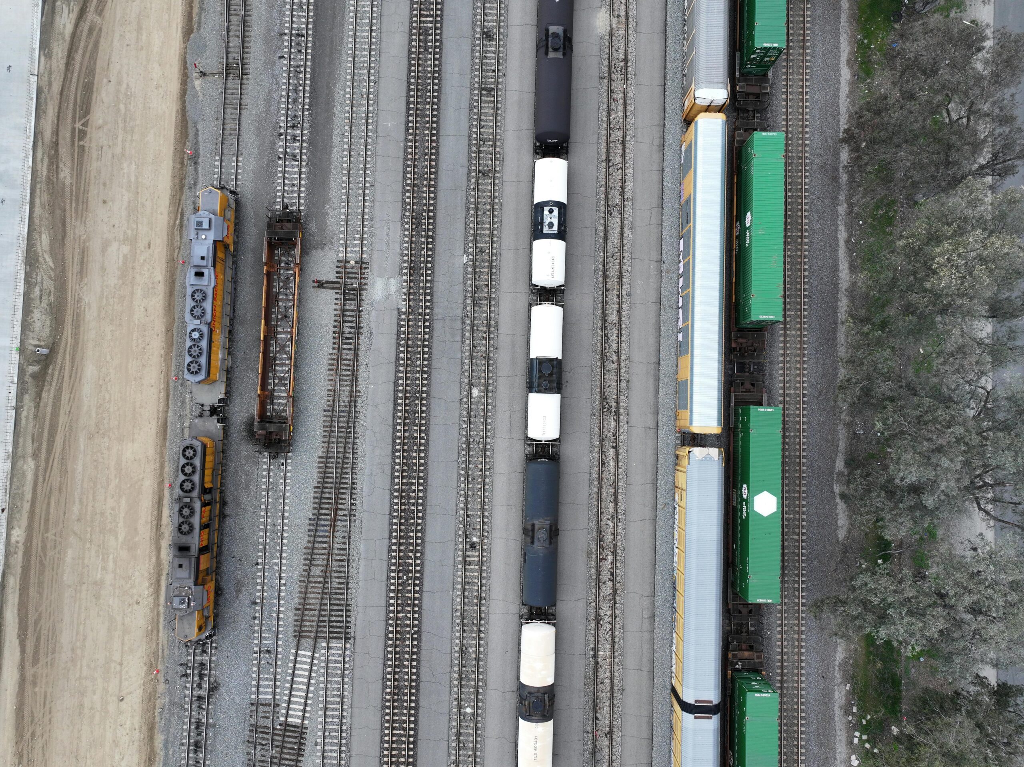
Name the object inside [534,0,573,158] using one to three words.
rail car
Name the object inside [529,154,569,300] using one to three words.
rail car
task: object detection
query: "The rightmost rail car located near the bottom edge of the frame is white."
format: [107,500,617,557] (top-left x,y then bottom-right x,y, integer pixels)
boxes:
[517,608,557,767]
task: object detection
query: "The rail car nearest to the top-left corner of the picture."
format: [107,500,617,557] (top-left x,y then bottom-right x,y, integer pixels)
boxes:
[183,183,241,410]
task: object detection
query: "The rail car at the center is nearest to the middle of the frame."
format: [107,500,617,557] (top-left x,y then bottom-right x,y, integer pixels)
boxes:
[525,297,565,451]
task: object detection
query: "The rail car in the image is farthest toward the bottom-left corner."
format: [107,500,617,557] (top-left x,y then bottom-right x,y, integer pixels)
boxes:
[165,412,229,648]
